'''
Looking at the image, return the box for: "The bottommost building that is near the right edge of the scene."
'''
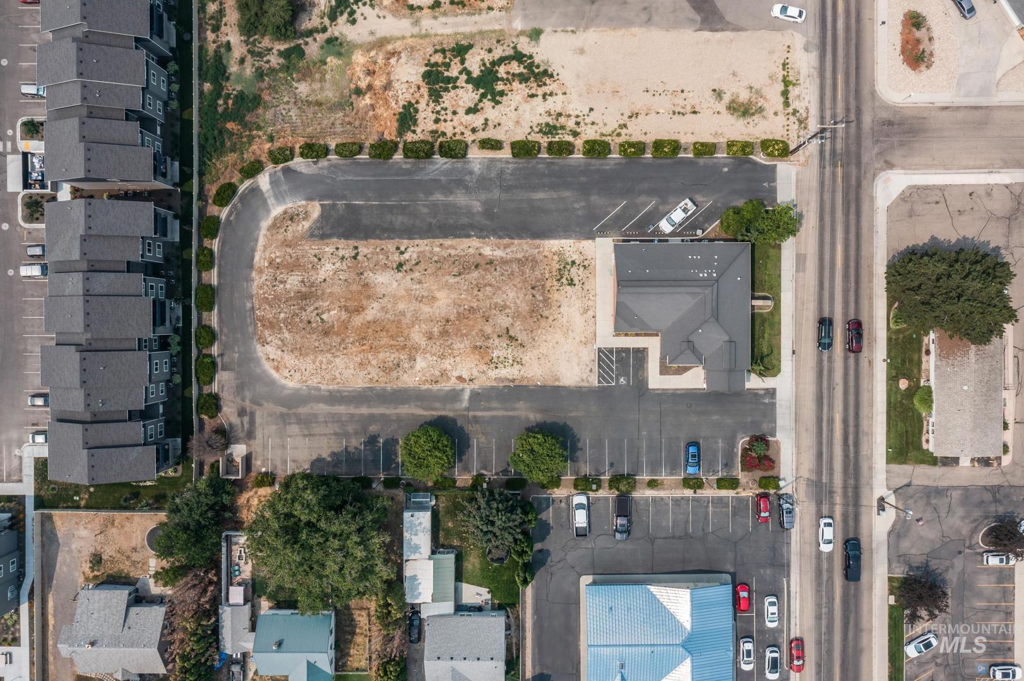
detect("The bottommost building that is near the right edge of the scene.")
[929,332,1003,458]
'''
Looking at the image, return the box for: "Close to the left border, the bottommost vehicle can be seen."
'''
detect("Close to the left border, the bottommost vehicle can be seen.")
[29,431,47,446]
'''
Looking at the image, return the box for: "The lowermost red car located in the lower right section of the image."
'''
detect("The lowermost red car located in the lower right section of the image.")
[789,637,806,671]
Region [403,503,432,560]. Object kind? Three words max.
shed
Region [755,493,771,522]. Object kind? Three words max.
car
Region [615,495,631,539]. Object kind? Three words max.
vehicle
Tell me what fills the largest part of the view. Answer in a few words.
paved ground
